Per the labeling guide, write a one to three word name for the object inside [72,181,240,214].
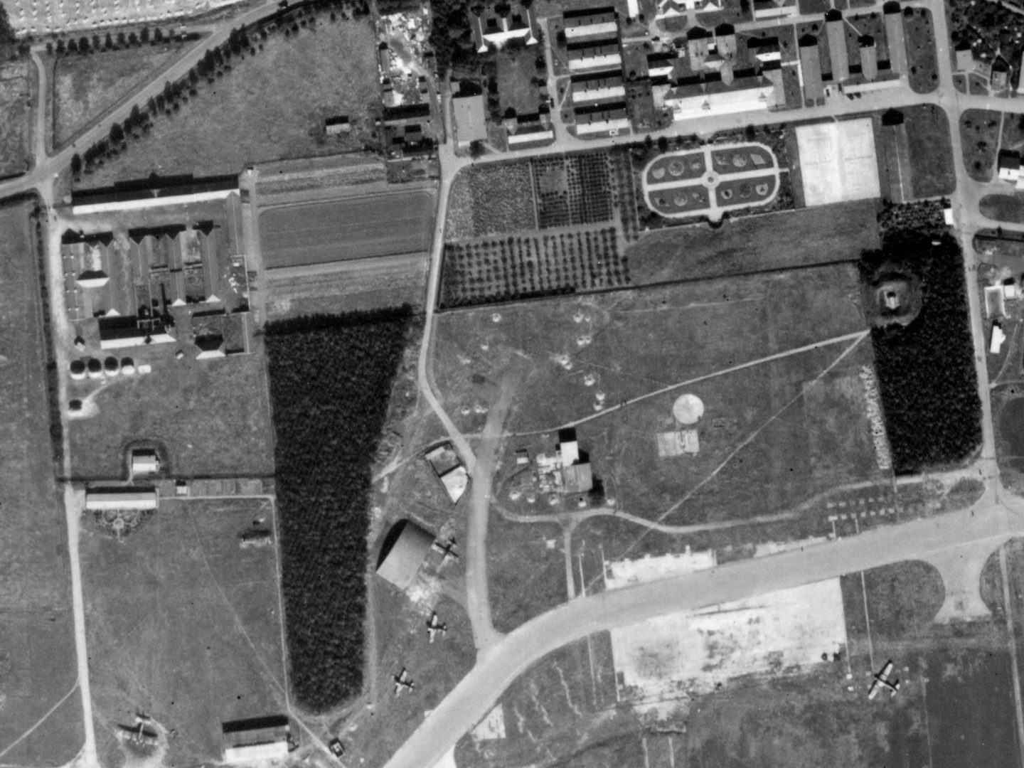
barn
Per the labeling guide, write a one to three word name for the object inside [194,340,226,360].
building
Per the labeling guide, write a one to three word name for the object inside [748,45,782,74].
house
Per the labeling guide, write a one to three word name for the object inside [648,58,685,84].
house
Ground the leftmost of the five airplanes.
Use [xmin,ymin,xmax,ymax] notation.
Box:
[119,718,158,745]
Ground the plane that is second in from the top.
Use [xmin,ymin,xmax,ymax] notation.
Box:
[427,612,449,640]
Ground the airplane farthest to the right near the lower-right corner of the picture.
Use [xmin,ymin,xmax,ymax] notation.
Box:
[869,664,901,699]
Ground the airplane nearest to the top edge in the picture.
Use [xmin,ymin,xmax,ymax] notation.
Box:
[435,538,459,561]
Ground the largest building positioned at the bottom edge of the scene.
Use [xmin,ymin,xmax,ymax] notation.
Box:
[222,725,291,763]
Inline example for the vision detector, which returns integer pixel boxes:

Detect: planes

[869,664,901,699]
[427,612,449,640]
[435,538,459,561]
[393,668,417,695]
[119,718,158,745]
